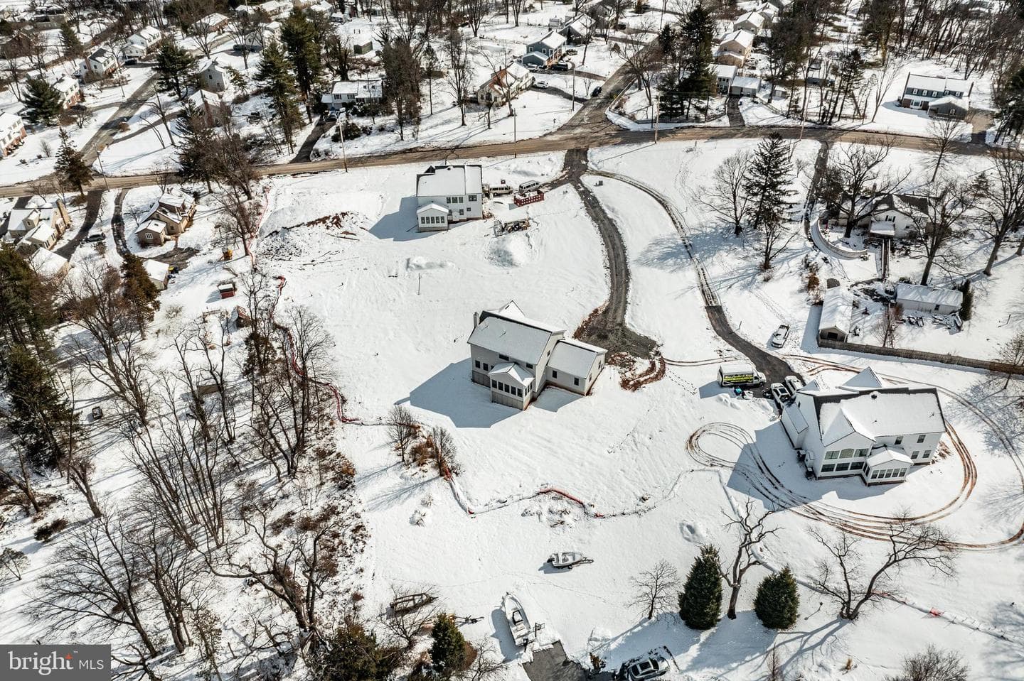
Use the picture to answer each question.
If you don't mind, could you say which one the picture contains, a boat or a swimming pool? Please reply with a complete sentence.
The image shows a boat.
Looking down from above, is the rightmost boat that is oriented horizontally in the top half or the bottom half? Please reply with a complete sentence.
You can find the rightmost boat that is oriented horizontally in the bottom half.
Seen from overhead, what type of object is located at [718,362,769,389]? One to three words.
truck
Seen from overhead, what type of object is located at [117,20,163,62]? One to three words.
house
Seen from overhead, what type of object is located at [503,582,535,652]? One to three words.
boat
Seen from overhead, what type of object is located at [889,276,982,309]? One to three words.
shed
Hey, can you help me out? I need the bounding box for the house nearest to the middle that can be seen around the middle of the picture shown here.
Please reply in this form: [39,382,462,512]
[467,299,618,410]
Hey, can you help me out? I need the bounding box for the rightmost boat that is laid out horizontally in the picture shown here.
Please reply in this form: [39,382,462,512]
[542,547,594,569]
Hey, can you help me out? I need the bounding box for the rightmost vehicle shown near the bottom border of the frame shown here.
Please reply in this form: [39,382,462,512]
[623,650,674,681]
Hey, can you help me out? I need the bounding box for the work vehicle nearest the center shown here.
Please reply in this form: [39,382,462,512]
[500,217,530,234]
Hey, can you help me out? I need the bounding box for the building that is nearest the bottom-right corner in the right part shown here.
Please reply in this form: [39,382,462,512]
[775,364,951,490]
